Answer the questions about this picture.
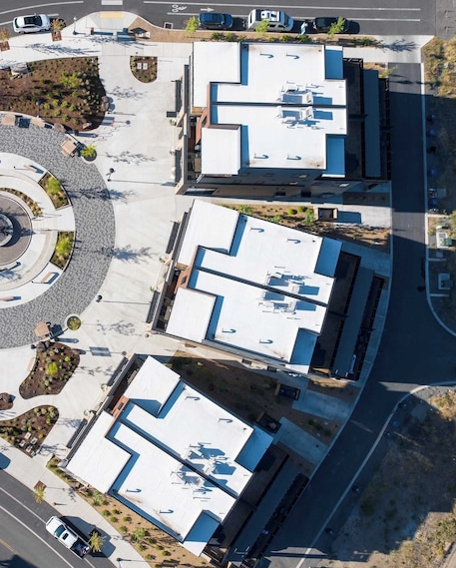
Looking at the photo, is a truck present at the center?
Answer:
No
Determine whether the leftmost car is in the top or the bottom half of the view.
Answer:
top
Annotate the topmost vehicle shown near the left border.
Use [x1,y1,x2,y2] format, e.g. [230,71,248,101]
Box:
[11,12,51,34]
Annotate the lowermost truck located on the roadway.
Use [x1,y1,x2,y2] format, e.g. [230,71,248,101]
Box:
[43,513,93,562]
